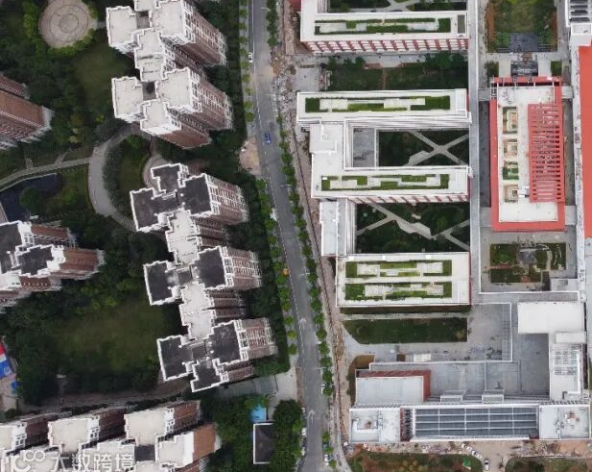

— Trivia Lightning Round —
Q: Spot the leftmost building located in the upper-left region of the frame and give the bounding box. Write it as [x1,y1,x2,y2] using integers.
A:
[0,71,50,155]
